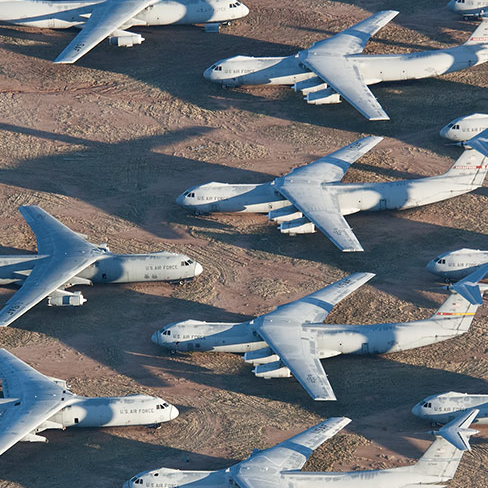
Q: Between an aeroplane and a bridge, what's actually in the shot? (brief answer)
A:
aeroplane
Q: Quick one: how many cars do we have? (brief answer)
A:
0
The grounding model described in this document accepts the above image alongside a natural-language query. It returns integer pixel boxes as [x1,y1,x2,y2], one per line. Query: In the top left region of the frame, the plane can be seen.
[0,0,249,65]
